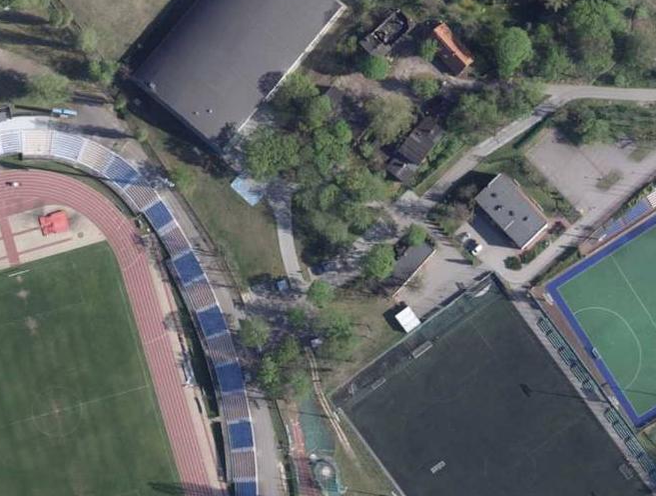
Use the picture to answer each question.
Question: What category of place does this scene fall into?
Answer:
sports ground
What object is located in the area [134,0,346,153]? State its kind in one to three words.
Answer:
building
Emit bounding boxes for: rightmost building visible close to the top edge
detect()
[425,22,474,77]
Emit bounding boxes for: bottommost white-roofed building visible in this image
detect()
[395,306,420,332]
